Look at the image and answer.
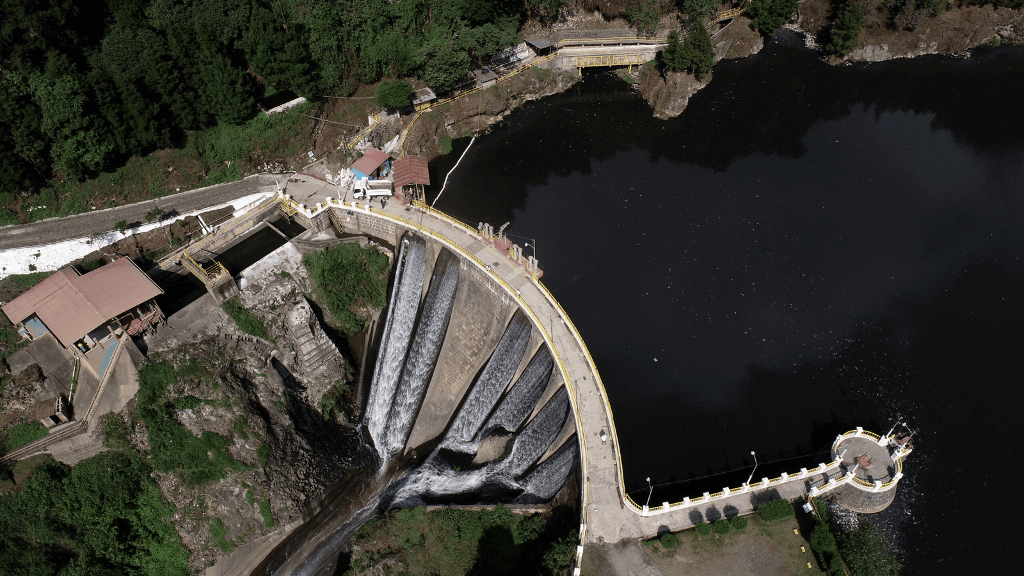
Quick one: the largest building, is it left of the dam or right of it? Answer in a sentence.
To the left of the dam is where the largest building appears.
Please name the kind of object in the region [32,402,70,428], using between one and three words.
shed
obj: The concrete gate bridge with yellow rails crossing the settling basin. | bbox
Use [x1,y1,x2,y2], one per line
[181,252,242,319]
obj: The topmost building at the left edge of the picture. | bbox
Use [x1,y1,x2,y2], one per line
[2,255,165,359]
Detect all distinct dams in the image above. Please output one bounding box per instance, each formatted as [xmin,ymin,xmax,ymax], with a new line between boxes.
[329,205,641,576]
